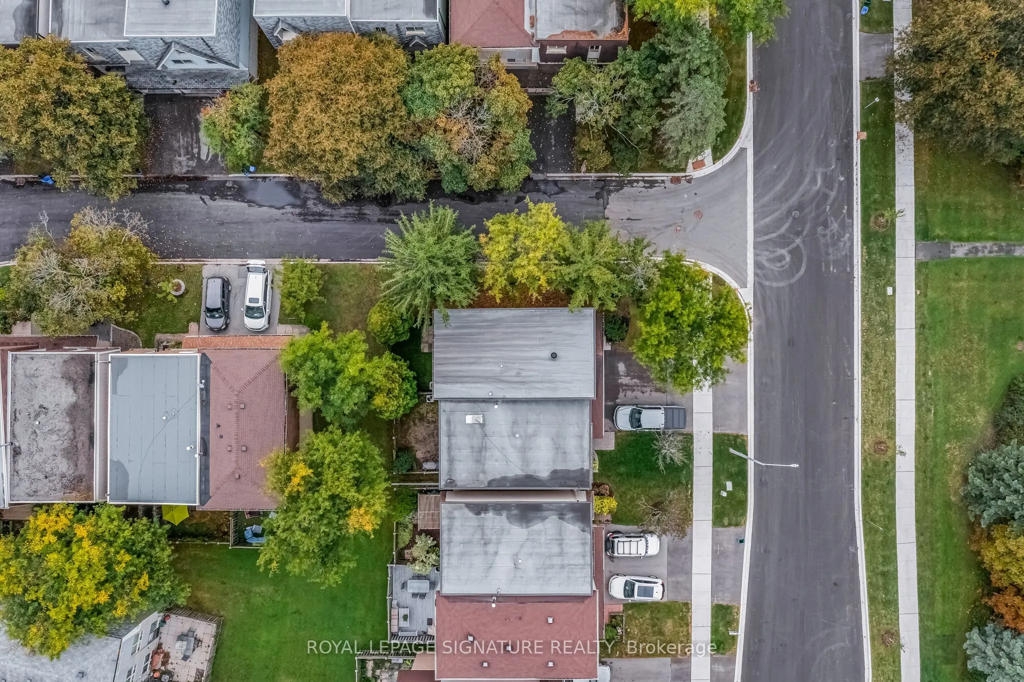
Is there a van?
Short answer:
Yes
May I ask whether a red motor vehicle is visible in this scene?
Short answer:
No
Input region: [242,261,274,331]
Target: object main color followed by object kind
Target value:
white van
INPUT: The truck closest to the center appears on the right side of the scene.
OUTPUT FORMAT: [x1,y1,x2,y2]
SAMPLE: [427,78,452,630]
[610,404,684,433]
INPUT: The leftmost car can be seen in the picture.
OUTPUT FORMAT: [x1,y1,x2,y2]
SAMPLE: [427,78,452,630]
[202,276,232,331]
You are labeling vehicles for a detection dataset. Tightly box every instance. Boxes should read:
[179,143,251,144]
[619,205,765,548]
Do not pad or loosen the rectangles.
[605,574,664,605]
[604,531,659,561]
[610,404,684,433]
[202,276,232,331]
[242,261,274,331]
